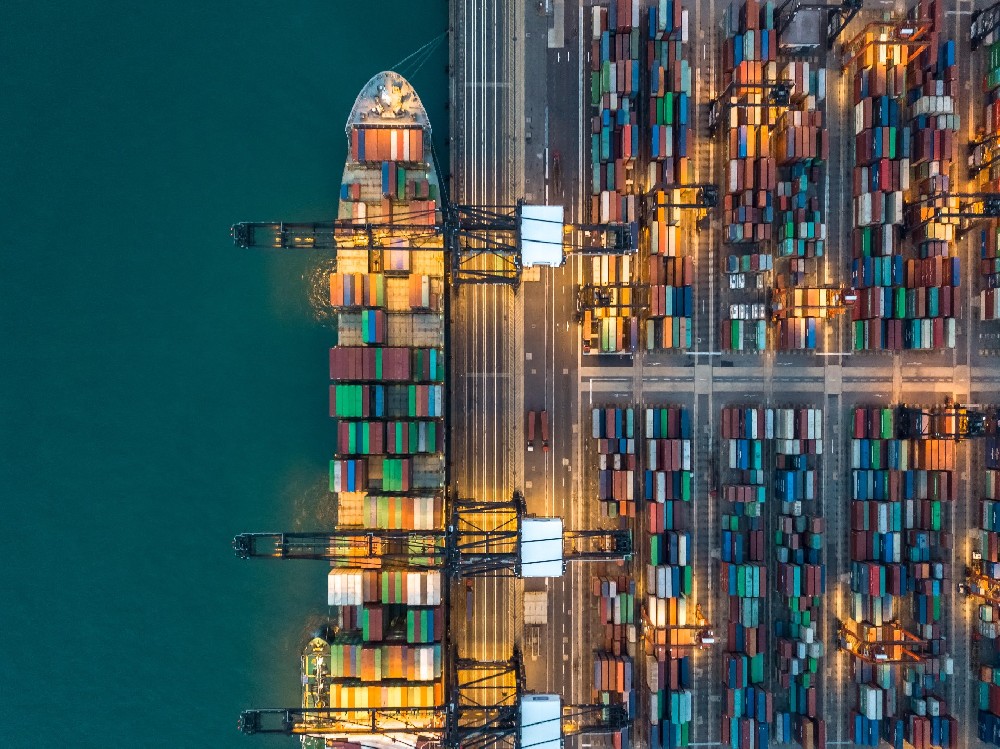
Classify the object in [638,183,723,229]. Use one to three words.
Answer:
crane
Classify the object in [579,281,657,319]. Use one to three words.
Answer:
crane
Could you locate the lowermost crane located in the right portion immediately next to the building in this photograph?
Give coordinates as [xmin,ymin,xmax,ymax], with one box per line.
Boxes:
[710,81,801,136]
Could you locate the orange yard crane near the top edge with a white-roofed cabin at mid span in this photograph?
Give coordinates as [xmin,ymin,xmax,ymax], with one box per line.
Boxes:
[841,18,936,74]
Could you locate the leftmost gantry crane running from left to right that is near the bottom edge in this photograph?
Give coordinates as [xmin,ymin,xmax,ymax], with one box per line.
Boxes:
[229,629,641,749]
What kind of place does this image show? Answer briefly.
port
